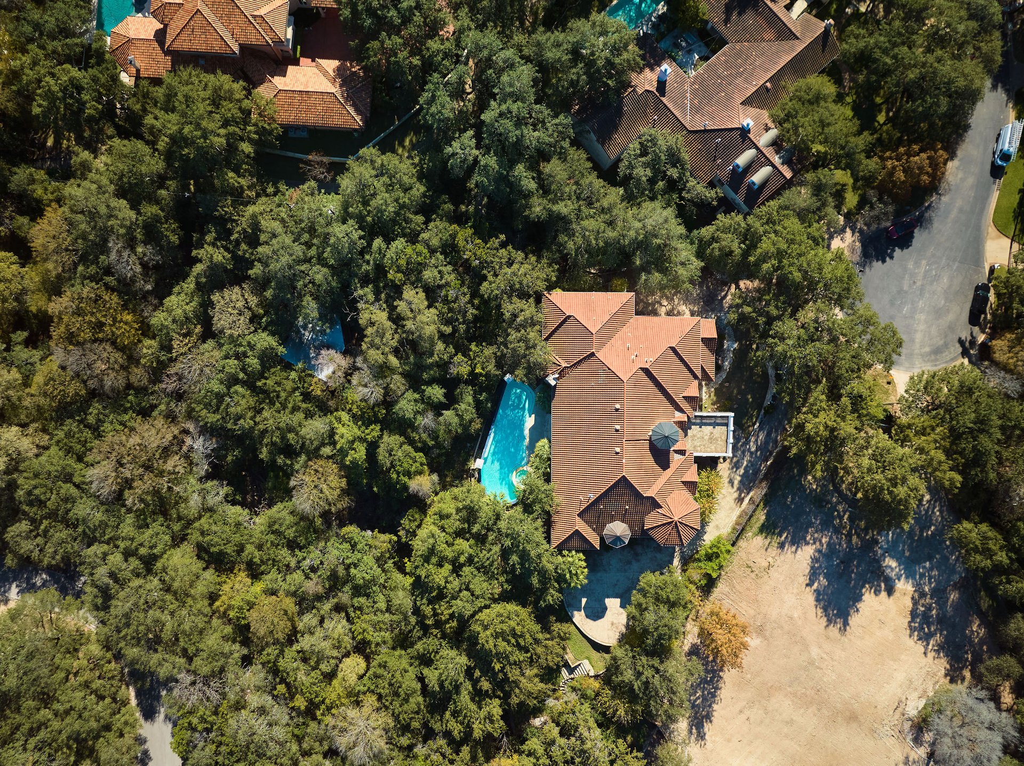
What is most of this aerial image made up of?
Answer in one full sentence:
The largest share of the image is taken up by trees.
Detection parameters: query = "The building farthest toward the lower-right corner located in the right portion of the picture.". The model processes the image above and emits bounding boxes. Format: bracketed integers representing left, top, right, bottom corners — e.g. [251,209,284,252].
[542,291,718,551]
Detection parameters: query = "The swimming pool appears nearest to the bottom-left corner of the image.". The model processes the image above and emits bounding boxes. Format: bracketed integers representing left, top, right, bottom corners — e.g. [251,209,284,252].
[474,373,537,506]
